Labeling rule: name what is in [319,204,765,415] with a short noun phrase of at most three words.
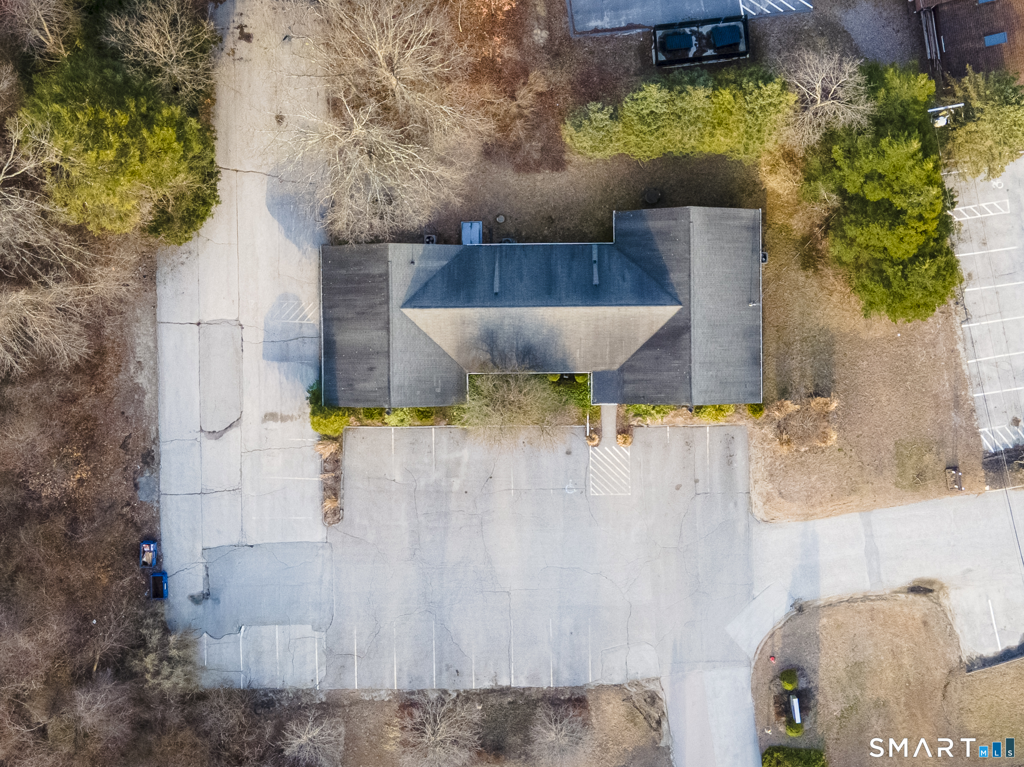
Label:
building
